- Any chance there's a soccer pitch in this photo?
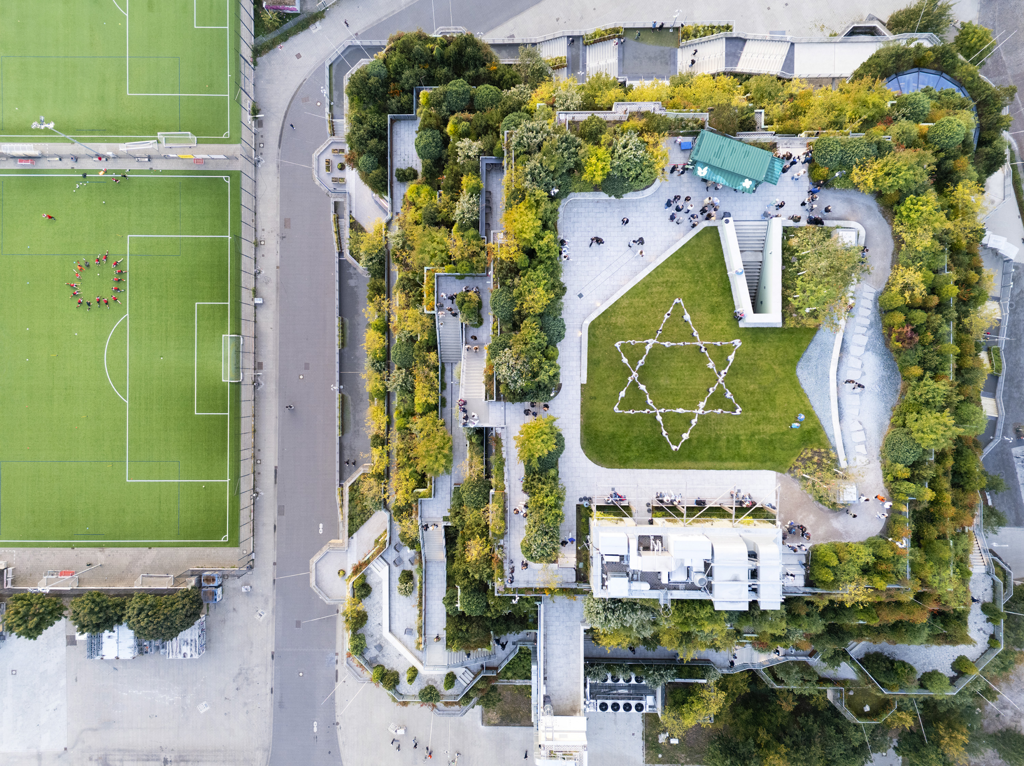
Yes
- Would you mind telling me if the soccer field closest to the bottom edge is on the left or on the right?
left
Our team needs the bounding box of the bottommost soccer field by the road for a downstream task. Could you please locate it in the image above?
[0,171,241,548]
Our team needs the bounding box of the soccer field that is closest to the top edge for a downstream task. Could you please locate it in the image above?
[0,0,241,143]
